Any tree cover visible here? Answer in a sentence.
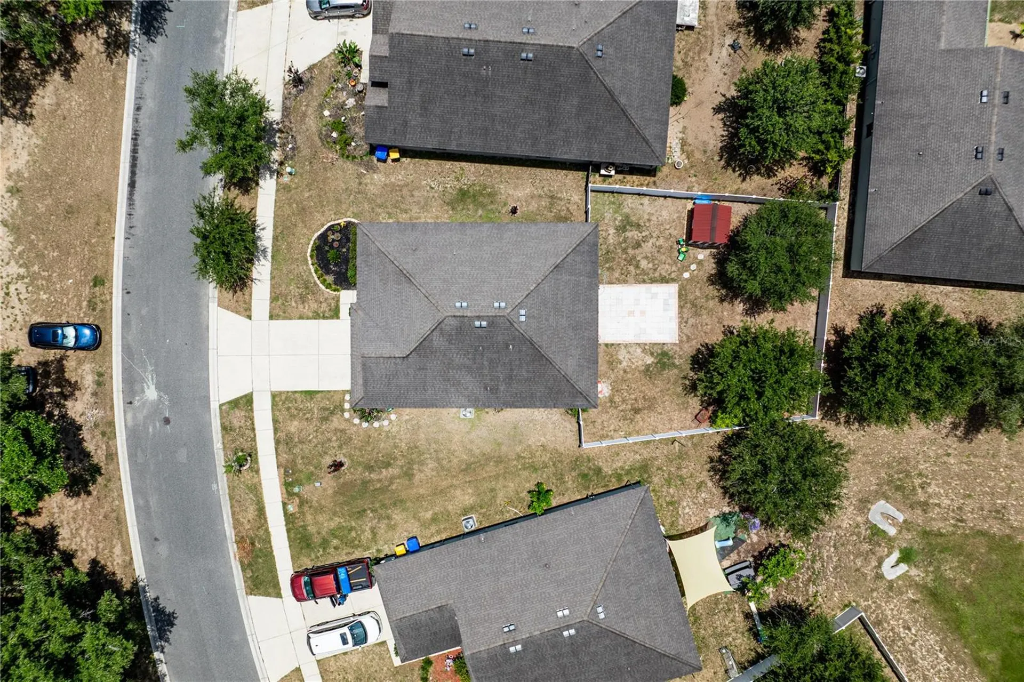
Yes, the picture does contain tree cover.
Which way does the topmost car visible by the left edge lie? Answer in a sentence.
The topmost car visible by the left edge runs from left to right in the image.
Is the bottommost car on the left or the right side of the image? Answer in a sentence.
It is on the left.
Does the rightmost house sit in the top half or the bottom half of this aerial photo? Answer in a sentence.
It is in the top half that the rightmost house appears.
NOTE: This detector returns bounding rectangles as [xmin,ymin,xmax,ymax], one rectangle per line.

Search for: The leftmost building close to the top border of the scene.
[364,0,682,167]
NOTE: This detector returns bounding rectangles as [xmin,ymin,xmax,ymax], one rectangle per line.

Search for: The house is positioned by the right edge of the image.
[852,0,1024,285]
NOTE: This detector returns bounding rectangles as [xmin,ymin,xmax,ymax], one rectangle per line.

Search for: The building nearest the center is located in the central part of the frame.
[350,221,599,409]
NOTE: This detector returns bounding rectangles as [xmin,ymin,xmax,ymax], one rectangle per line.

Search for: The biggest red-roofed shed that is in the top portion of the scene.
[680,204,730,247]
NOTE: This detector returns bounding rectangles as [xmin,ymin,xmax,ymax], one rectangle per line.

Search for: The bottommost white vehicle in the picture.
[307,608,384,656]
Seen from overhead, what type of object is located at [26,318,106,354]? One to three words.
car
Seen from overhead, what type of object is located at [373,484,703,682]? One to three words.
house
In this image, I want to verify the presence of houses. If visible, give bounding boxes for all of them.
[852,0,1024,285]
[350,221,599,409]
[373,484,703,682]
[364,0,682,167]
